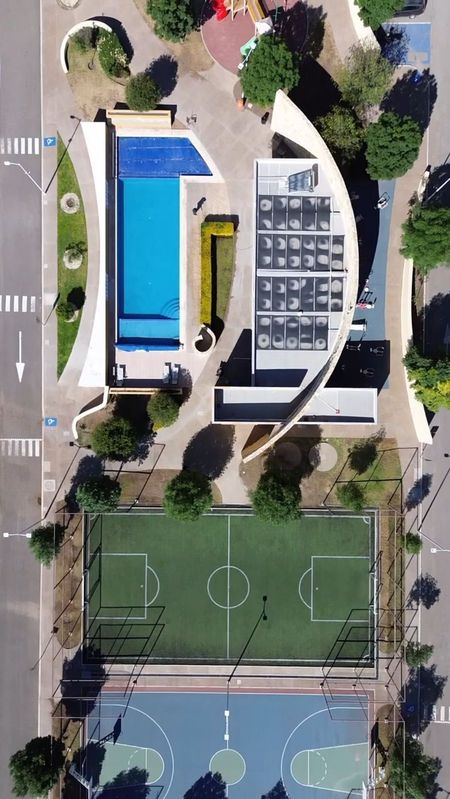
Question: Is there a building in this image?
Yes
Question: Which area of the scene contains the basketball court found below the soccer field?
bottom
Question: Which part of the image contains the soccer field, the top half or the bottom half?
bottom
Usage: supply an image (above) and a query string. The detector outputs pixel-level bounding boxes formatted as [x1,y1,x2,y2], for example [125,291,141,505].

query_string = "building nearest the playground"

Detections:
[251,159,346,388]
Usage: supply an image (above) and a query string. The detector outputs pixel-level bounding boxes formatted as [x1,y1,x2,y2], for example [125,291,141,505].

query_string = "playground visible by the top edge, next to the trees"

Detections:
[200,0,311,70]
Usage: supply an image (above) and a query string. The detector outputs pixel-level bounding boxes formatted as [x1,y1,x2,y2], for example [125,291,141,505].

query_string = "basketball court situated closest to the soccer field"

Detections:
[84,687,371,799]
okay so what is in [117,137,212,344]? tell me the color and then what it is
blue swimming pool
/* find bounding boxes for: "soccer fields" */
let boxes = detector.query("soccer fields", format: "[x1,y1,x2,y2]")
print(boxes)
[83,510,377,667]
